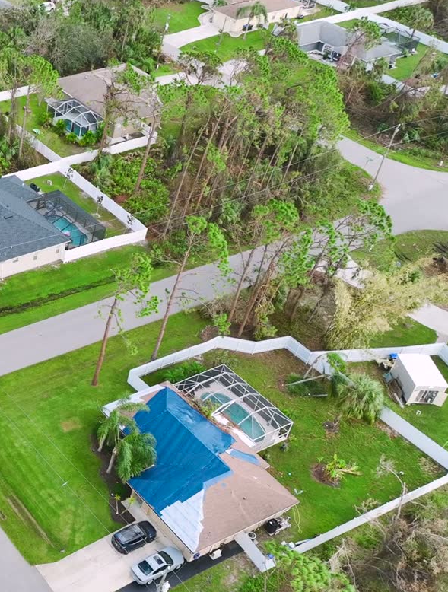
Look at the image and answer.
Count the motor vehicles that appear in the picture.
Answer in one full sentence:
In total, 2 motor vehicles can be seen.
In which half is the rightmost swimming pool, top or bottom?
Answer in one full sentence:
The rightmost swimming pool sits in the bottom half of the picture.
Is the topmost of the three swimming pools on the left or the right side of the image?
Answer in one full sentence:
The topmost of the three swimming pools appears in the left half of the scene.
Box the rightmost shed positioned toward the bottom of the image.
[385,352,448,408]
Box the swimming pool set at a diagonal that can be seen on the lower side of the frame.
[184,380,283,454]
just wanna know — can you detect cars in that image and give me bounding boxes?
[124,549,188,585]
[102,519,160,558]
